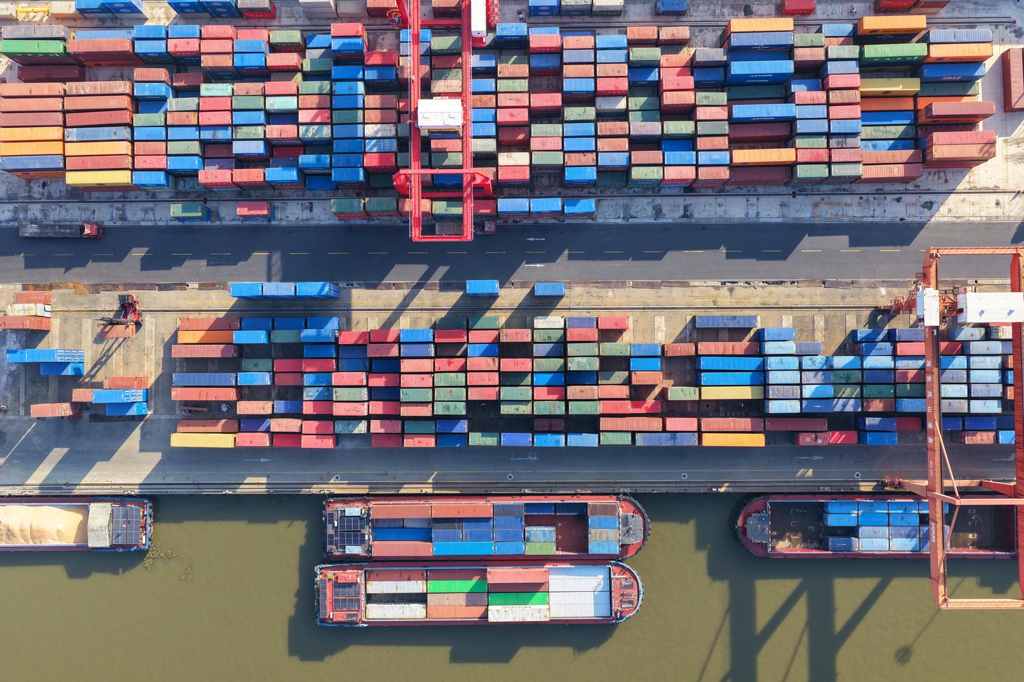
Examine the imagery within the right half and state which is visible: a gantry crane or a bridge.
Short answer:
gantry crane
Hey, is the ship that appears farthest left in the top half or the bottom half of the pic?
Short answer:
bottom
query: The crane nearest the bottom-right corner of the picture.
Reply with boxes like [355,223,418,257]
[875,245,1024,609]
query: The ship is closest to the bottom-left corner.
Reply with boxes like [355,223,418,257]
[0,499,156,552]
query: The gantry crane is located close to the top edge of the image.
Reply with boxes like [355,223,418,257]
[388,0,499,242]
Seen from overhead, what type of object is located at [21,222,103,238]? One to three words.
vehicle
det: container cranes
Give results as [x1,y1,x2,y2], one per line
[875,245,1024,609]
[388,0,499,242]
